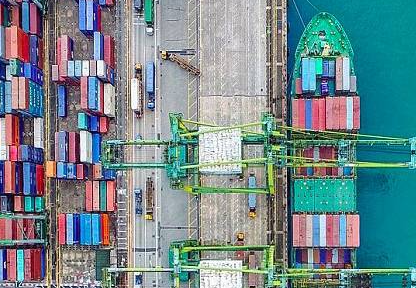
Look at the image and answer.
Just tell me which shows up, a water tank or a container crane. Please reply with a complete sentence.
It is a container crane that can be seen here.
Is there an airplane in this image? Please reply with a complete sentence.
No, the frame has no airplane in it.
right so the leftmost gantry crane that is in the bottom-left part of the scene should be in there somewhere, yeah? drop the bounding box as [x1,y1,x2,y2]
[0,214,51,247]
